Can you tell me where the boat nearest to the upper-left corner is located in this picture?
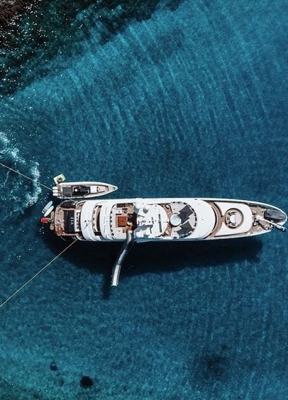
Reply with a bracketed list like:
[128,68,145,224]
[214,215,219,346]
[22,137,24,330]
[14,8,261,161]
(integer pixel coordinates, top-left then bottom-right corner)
[52,182,119,201]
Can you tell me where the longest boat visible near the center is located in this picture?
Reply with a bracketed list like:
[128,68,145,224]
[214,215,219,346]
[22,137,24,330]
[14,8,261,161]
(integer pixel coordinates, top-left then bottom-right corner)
[47,197,287,242]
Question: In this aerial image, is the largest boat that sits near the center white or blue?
white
